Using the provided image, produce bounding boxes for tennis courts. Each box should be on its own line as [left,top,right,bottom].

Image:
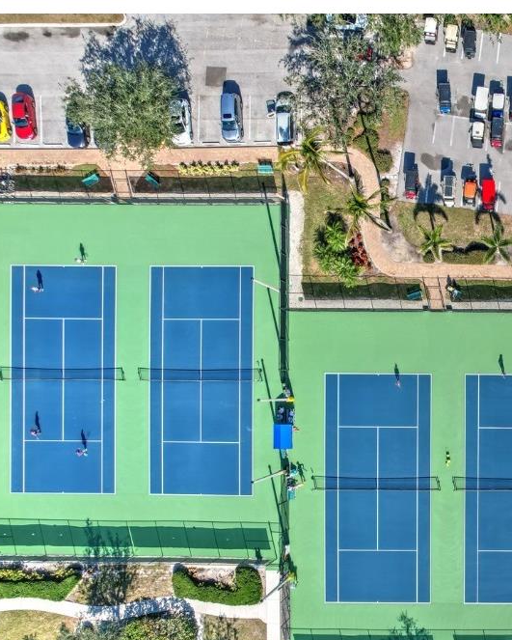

[132,203,286,556]
[287,309,448,640]
[0,203,132,556]
[448,309,512,640]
